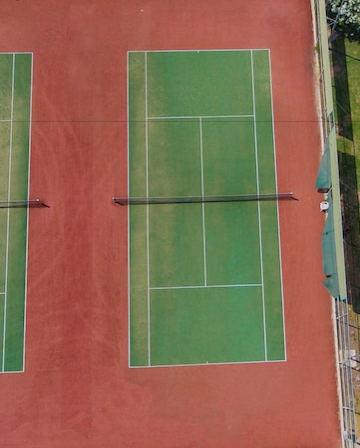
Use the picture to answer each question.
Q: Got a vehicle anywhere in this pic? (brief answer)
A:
No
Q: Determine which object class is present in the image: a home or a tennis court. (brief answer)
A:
tennis court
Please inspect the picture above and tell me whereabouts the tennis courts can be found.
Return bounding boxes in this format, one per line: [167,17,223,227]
[113,49,292,367]
[0,53,42,372]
